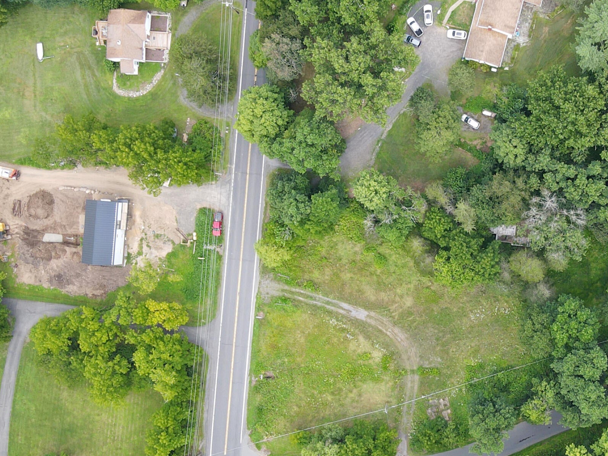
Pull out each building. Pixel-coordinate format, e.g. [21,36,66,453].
[463,0,546,66]
[489,227,528,246]
[107,7,151,74]
[83,199,130,264]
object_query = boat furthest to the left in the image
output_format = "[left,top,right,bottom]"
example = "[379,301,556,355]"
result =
[37,40,54,60]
